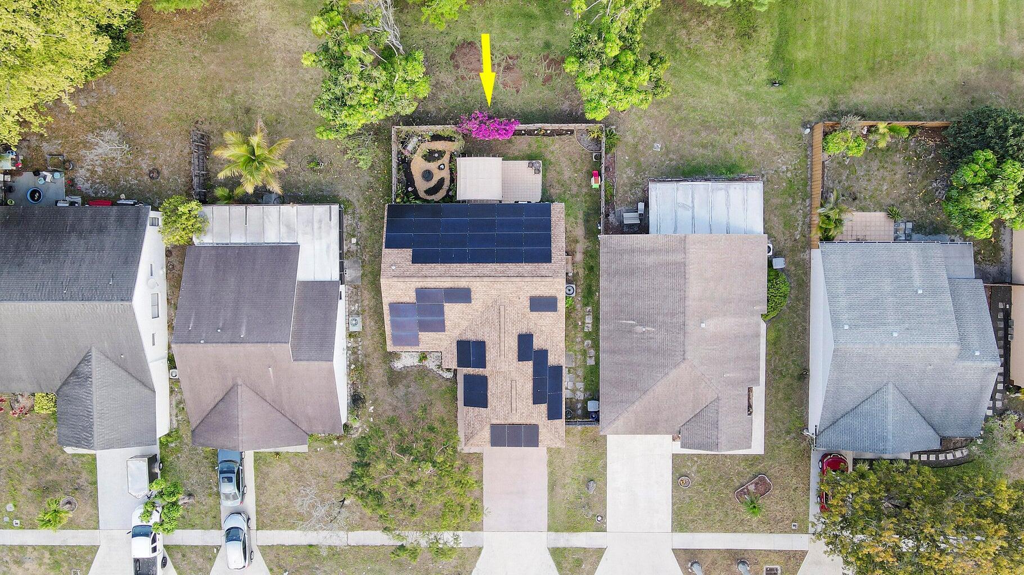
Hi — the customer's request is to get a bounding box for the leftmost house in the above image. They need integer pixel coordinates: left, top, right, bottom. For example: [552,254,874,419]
[0,205,167,451]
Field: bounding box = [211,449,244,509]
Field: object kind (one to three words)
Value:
car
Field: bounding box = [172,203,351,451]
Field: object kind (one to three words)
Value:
house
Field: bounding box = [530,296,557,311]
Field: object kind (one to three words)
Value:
solar panel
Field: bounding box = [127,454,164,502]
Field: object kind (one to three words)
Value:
trailer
